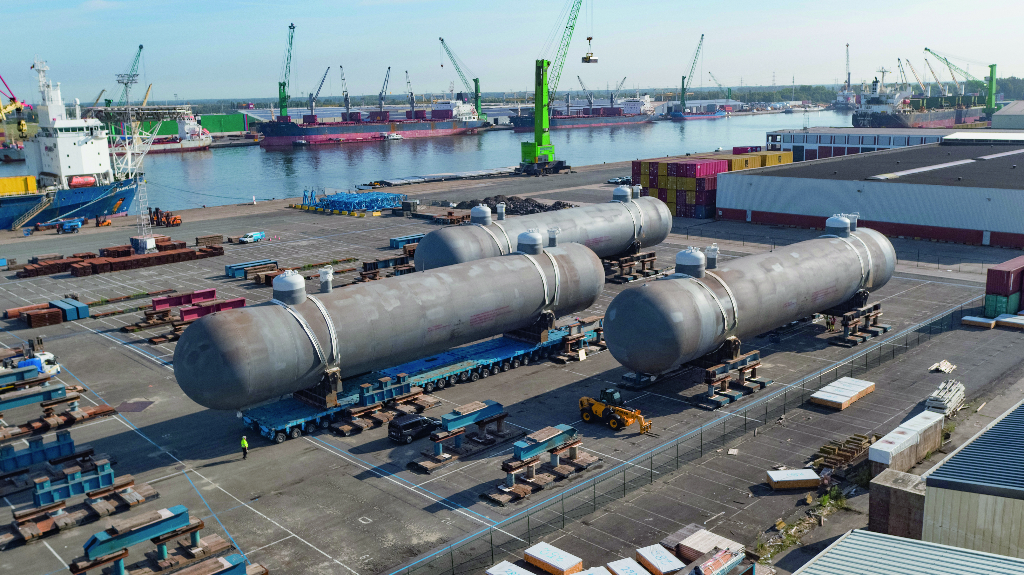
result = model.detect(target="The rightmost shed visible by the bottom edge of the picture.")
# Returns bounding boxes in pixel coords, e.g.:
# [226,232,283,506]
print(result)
[921,398,1024,575]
